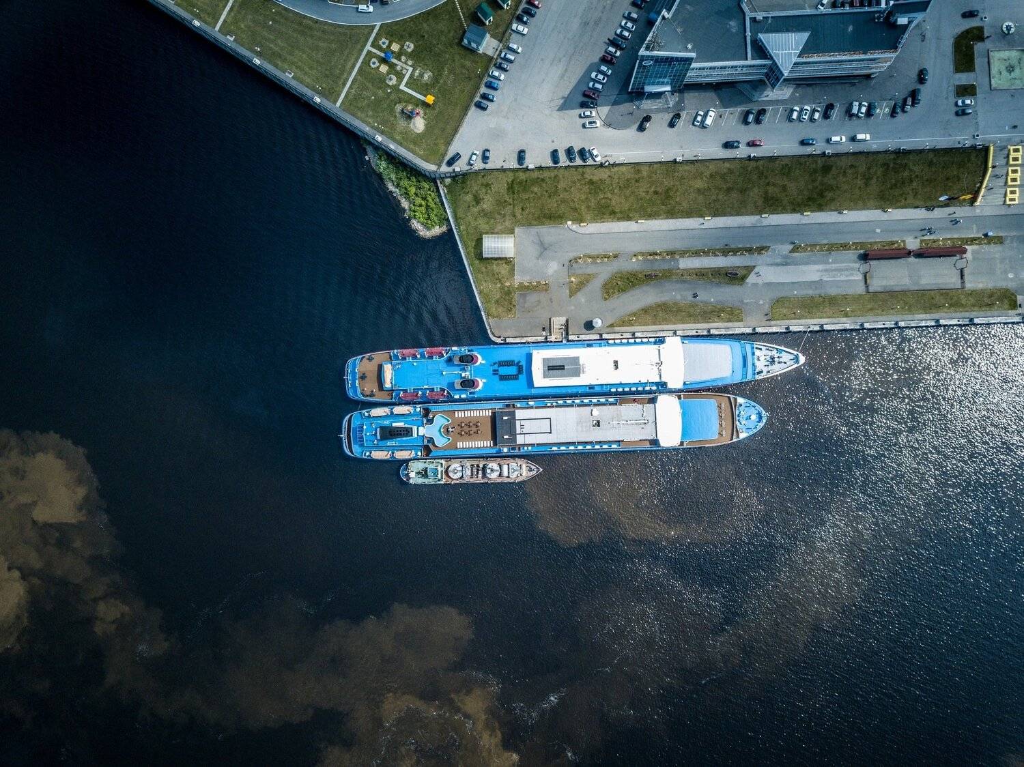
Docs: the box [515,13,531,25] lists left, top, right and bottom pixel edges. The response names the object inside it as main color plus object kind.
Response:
black vehicle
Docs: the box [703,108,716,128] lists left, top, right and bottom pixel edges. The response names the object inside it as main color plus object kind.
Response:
white vehicle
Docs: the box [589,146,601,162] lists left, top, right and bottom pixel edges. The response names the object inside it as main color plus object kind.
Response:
white vehicle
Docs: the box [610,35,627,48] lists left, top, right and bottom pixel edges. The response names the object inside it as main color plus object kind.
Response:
black vehicle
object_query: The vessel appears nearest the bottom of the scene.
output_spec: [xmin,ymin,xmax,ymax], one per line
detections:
[400,458,543,485]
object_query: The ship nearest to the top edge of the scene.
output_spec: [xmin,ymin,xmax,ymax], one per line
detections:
[342,336,807,403]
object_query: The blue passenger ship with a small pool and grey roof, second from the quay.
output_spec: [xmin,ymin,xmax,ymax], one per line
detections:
[338,393,771,461]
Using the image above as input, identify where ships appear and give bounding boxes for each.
[400,458,543,485]
[338,393,771,461]
[342,336,807,403]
